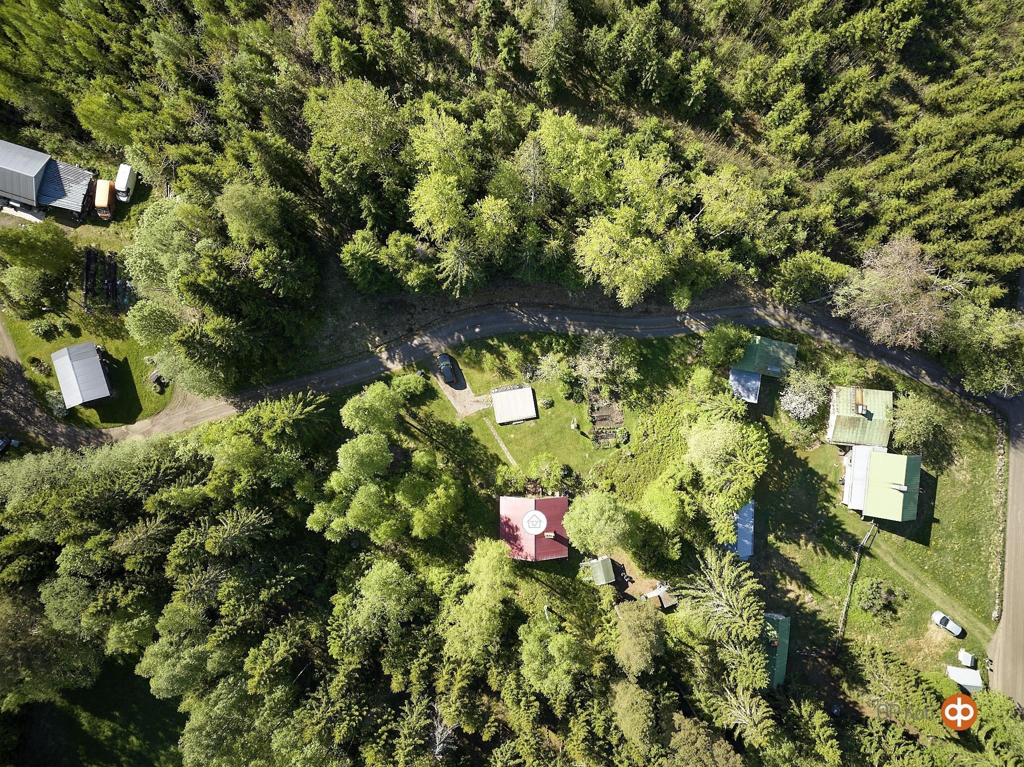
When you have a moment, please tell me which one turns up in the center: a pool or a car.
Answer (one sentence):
Visible in the center is a car.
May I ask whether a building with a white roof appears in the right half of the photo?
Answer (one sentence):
Yes, a building with a white roof can be seen in the right half of the photo.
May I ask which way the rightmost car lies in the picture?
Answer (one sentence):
The rightmost car is oriented at an angle.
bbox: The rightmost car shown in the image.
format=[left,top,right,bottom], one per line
[933,612,964,638]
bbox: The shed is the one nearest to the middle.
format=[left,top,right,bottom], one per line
[492,387,536,426]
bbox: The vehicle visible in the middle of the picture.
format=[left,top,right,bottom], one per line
[437,353,455,386]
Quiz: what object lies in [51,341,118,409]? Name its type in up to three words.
shed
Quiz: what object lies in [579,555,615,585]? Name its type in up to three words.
shed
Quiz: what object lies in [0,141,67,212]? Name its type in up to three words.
barn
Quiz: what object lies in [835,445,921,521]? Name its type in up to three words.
house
